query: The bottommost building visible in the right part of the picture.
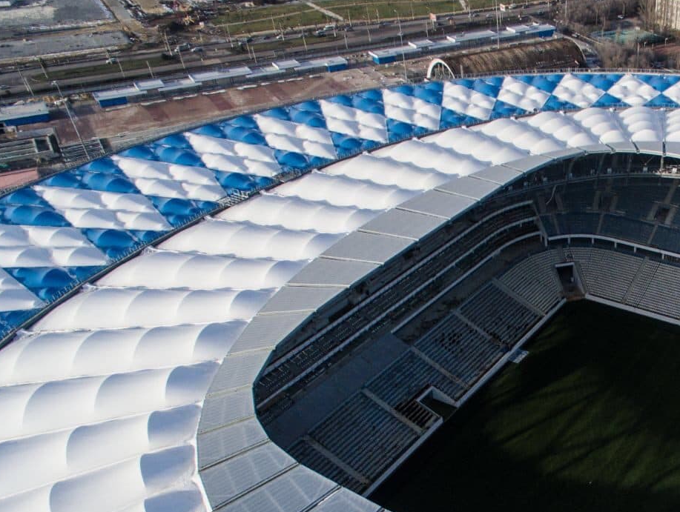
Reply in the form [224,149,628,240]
[372,25,556,64]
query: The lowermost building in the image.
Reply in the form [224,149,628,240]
[0,100,52,125]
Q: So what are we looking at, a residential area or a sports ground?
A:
sports ground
